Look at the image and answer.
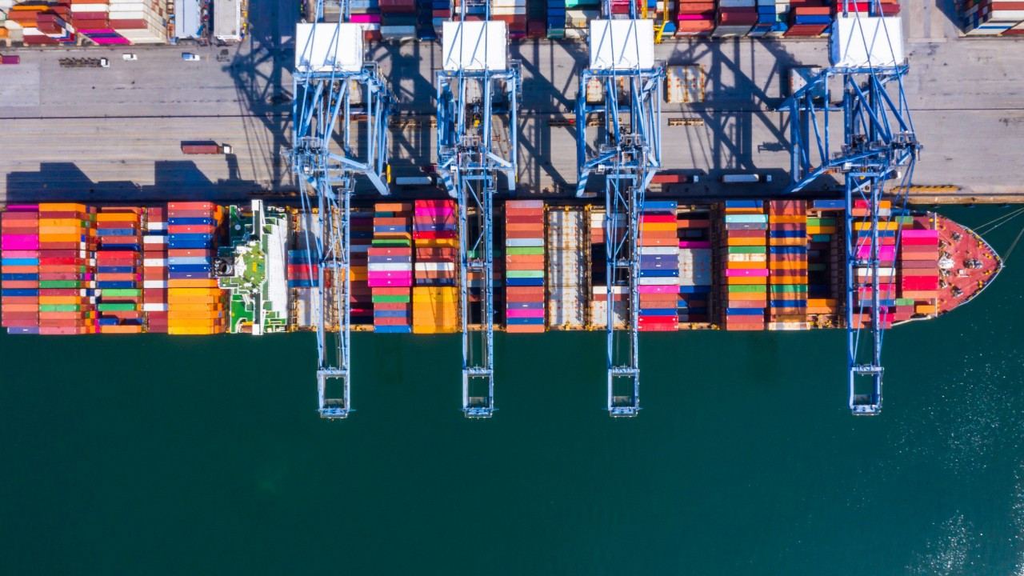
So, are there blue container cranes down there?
Yes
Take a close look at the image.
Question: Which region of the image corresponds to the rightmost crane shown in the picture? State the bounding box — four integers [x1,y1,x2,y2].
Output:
[759,0,921,419]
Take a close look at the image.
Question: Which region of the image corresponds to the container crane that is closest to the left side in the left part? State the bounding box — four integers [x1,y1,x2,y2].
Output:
[286,0,410,422]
